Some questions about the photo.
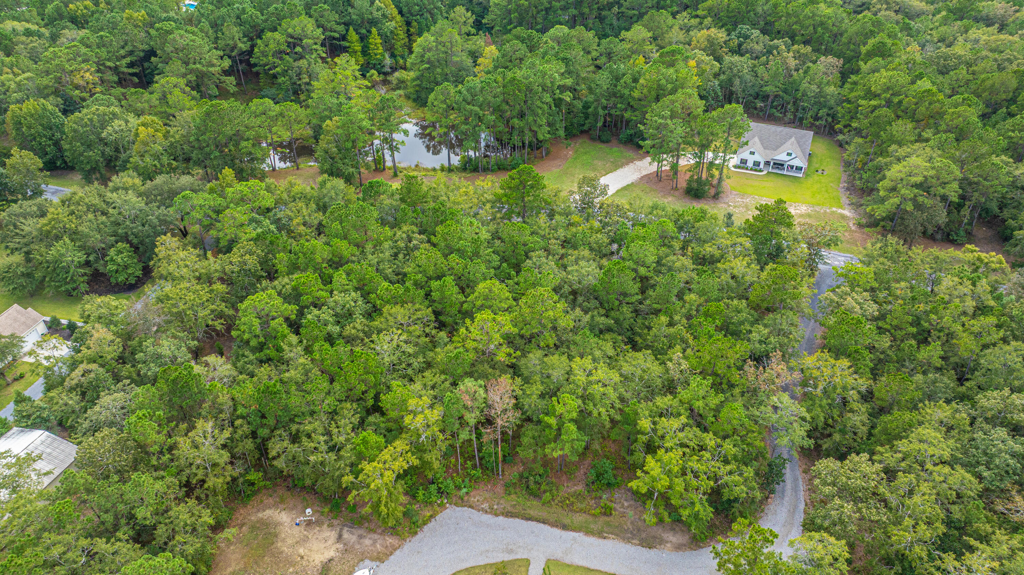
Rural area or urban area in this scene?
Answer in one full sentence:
The land in this view is best described as rural.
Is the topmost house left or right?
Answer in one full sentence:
The topmost house sits on the right side.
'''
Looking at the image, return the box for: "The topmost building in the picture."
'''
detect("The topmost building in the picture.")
[736,122,818,177]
